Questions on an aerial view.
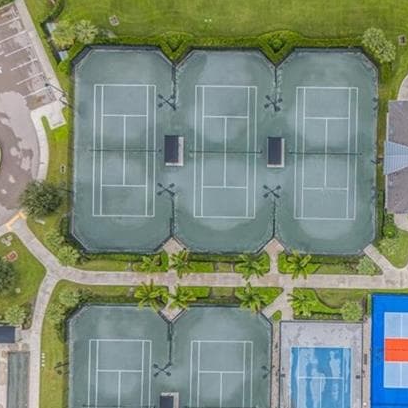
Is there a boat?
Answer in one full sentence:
No, there isn't any boat down there.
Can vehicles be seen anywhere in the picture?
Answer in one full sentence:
No, no vehicle can be seen from above.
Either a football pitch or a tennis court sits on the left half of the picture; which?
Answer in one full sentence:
It is a tennis court that can be seen on the left half of the picture.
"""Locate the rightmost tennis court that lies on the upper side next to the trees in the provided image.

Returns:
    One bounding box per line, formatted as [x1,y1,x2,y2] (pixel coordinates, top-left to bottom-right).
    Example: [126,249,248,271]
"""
[275,51,377,254]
